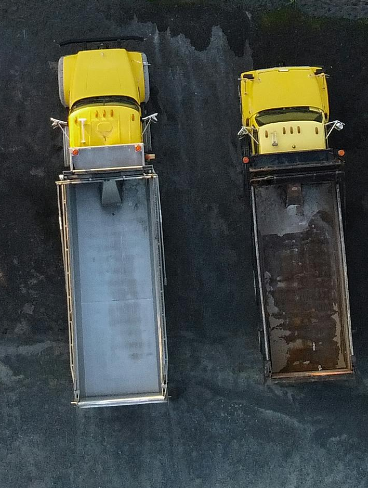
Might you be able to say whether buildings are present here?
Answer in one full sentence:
No, there is no building in the image.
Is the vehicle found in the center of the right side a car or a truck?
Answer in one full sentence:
I'd say the vehicle found in the center of the right side is a truck.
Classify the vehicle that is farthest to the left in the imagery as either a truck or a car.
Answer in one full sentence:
I'd say the vehicle that is farthest to the left is a truck.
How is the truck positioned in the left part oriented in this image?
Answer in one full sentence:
What the image shows is the truck positioned in the left part lying vertically.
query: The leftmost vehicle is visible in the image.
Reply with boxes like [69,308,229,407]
[50,32,173,410]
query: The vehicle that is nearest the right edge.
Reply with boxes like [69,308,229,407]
[232,64,359,384]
